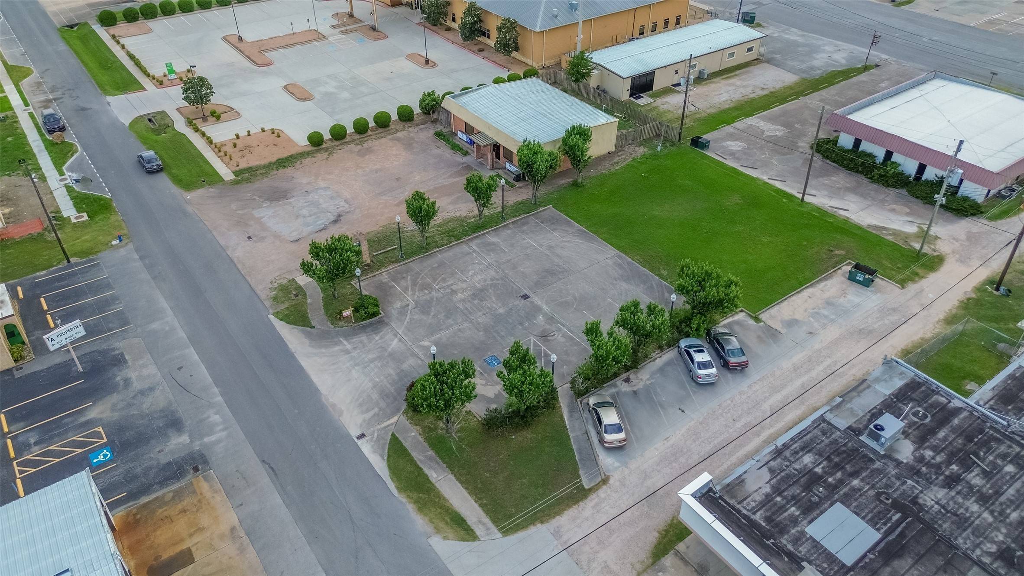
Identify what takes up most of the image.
paved ground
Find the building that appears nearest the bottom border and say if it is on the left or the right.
left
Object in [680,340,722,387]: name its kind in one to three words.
car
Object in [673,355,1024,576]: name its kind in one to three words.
building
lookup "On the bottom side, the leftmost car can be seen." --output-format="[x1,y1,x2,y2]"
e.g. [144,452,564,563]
[591,398,630,453]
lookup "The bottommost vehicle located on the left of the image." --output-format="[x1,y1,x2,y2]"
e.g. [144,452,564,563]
[136,149,163,175]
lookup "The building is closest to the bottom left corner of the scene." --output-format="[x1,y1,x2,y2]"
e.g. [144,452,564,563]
[0,470,131,576]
